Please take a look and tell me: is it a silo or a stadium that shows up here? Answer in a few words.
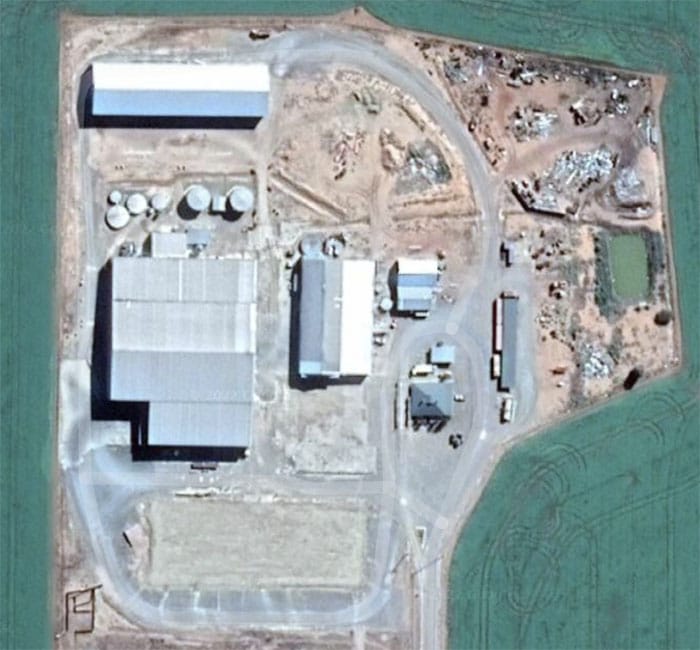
silo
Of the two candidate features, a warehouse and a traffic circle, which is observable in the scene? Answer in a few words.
warehouse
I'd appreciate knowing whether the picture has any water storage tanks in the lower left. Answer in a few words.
No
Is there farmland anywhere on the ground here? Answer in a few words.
Yes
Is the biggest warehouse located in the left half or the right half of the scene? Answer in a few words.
left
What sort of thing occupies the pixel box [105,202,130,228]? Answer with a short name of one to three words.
water tank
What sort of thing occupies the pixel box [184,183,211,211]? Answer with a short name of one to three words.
silo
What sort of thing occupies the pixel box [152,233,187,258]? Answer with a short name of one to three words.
building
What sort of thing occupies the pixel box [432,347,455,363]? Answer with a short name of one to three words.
shed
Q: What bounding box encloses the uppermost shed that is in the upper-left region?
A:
[92,62,270,117]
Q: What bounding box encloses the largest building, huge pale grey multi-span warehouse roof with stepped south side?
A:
[111,258,256,448]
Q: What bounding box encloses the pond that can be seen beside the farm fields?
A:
[603,226,656,312]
